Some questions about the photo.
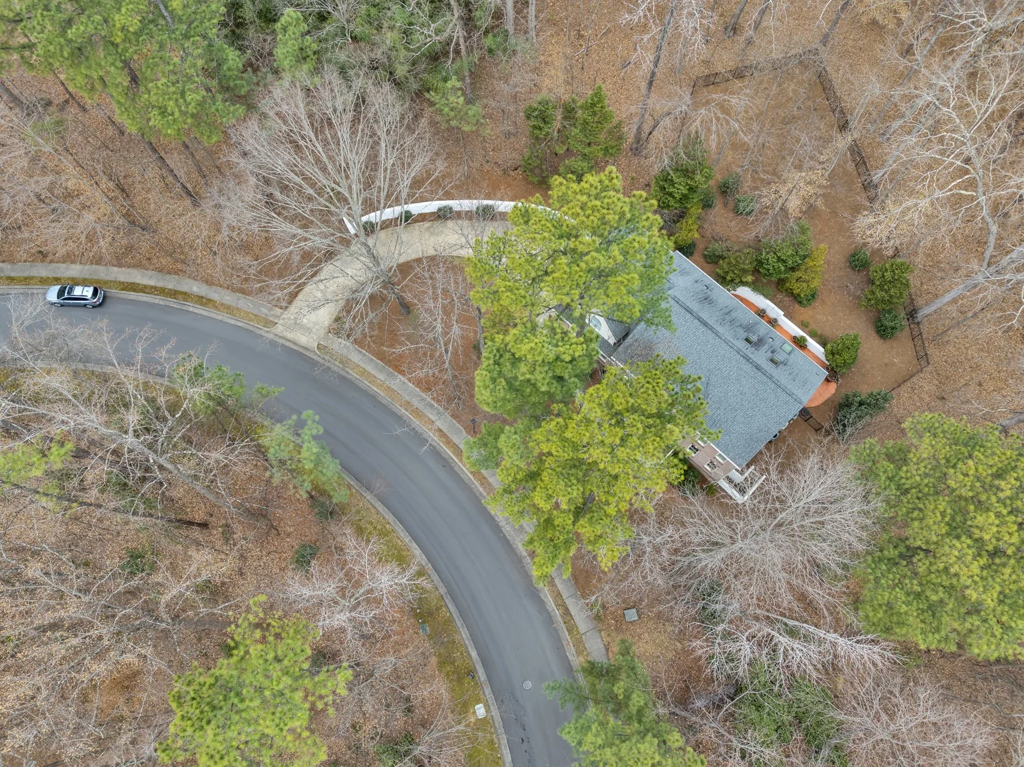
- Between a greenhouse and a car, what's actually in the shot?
car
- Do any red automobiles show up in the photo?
No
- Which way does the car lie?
from side to side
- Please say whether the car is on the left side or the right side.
left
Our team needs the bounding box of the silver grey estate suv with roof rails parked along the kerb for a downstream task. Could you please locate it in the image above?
[44,281,107,311]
